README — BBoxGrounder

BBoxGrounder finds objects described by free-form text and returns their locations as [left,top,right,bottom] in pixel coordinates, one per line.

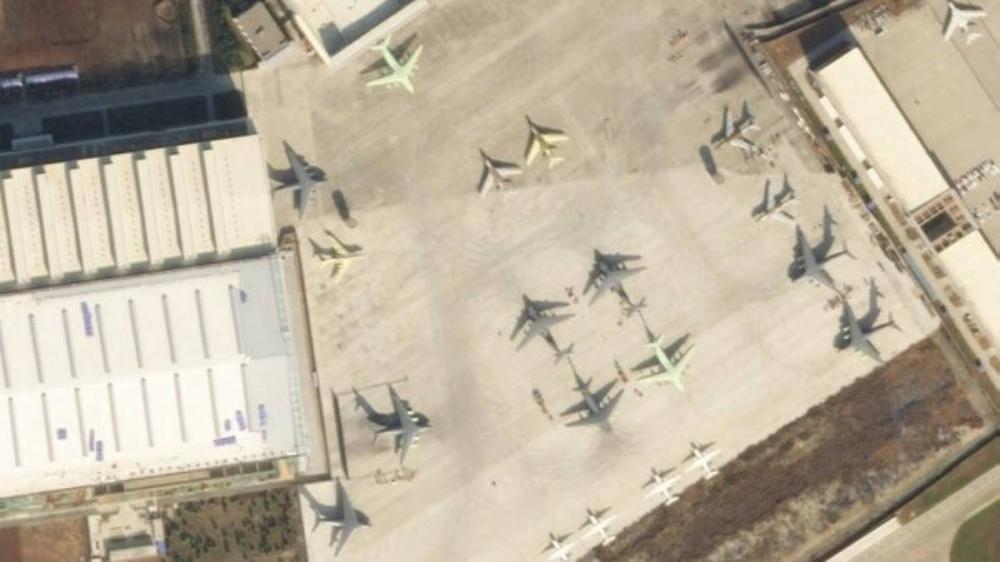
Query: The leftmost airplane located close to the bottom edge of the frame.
[312,487,372,556]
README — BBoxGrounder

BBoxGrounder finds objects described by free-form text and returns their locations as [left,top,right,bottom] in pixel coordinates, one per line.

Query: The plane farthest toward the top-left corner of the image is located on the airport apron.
[265,151,324,220]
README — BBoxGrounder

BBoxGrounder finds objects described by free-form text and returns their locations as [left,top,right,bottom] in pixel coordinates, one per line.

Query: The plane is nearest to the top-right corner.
[945,0,986,43]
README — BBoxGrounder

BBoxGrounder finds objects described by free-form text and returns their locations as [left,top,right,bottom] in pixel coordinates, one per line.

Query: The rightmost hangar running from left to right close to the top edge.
[280,0,441,67]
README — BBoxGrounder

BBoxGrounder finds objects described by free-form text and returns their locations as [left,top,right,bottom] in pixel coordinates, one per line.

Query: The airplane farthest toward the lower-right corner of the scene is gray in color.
[831,302,896,365]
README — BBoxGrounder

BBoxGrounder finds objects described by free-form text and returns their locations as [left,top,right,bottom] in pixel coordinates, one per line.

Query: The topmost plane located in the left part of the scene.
[366,32,422,93]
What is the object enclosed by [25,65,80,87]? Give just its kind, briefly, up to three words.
shed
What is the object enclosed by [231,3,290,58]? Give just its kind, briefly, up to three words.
building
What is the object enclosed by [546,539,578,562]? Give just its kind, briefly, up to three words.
airplane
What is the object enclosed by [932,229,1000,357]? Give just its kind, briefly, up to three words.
hangar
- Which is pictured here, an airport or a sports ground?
airport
